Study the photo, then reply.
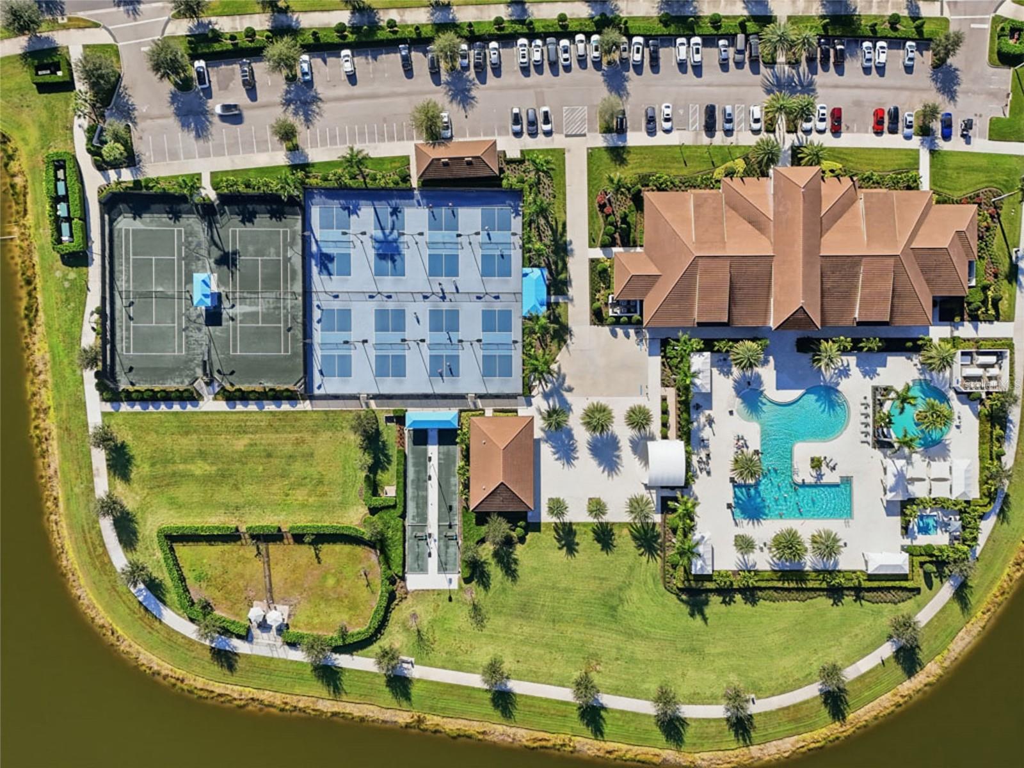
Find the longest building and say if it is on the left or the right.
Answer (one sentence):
The longest building is on the right side of the image.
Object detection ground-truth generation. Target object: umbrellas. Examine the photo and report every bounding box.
[946,519,963,534]
[248,607,265,624]
[265,610,282,627]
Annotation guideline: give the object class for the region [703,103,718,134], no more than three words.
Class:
car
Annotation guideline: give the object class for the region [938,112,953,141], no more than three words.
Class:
car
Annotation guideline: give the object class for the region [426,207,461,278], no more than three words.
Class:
sports court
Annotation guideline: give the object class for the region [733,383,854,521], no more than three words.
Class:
swimming pool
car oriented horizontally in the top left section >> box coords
[215,103,243,117]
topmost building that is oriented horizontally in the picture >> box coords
[416,140,498,181]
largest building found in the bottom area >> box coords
[470,416,534,511]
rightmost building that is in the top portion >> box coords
[614,166,978,330]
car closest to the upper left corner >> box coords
[194,60,211,89]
